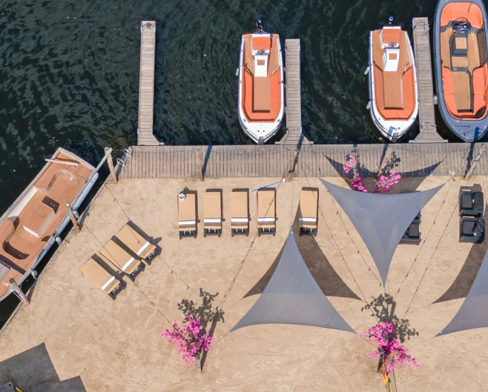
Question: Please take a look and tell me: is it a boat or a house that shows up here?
boat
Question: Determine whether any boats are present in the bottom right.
No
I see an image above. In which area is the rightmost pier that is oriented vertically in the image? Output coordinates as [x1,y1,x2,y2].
[408,16,448,142]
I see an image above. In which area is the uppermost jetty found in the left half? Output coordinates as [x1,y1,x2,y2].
[135,20,164,142]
